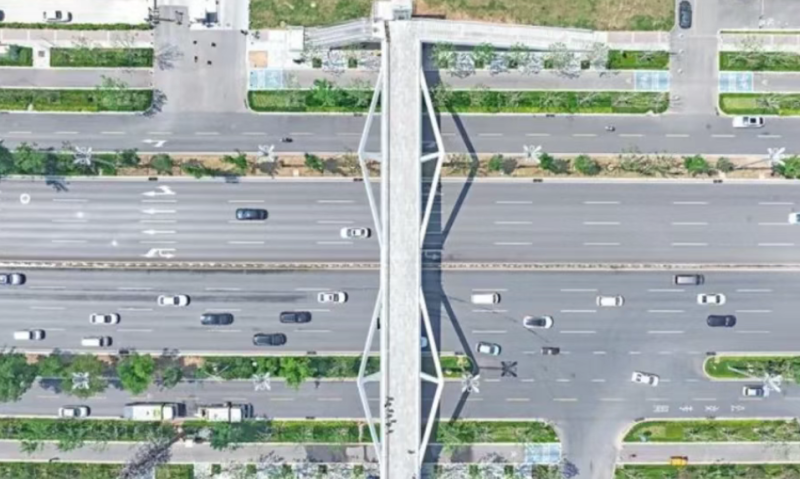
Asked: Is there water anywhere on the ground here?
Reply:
No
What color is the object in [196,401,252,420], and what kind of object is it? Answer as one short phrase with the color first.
white vehicle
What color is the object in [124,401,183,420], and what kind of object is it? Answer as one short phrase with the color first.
white vehicle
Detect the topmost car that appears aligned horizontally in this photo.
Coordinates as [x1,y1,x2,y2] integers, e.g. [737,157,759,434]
[41,9,70,23]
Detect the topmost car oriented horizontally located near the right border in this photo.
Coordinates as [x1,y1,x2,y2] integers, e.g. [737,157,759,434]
[731,116,762,128]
